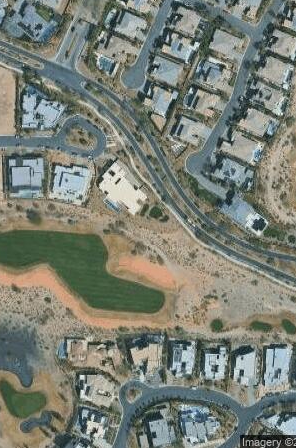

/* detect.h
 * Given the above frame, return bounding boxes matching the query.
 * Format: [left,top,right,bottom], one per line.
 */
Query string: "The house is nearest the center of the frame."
[88,155,152,223]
